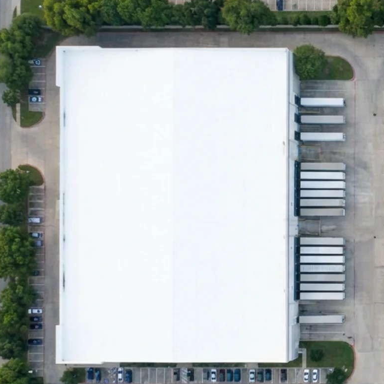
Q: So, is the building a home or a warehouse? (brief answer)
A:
warehouse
